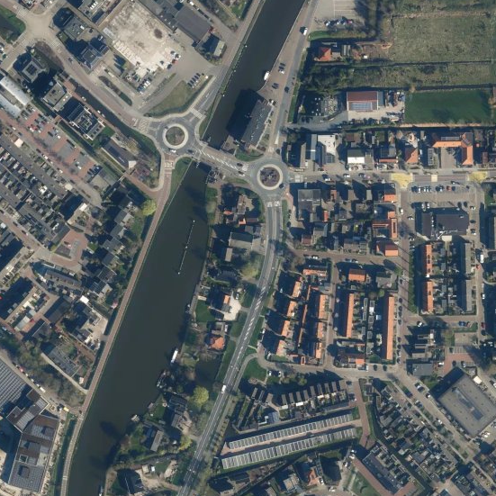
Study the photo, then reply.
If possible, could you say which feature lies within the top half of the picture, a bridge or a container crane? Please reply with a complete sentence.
It is a bridge that can be seen within the top half of the picture.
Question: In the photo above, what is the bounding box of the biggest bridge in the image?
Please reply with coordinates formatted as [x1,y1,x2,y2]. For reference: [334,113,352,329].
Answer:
[183,135,220,168]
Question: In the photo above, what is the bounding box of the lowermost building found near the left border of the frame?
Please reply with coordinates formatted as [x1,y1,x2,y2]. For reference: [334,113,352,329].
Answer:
[9,415,60,494]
